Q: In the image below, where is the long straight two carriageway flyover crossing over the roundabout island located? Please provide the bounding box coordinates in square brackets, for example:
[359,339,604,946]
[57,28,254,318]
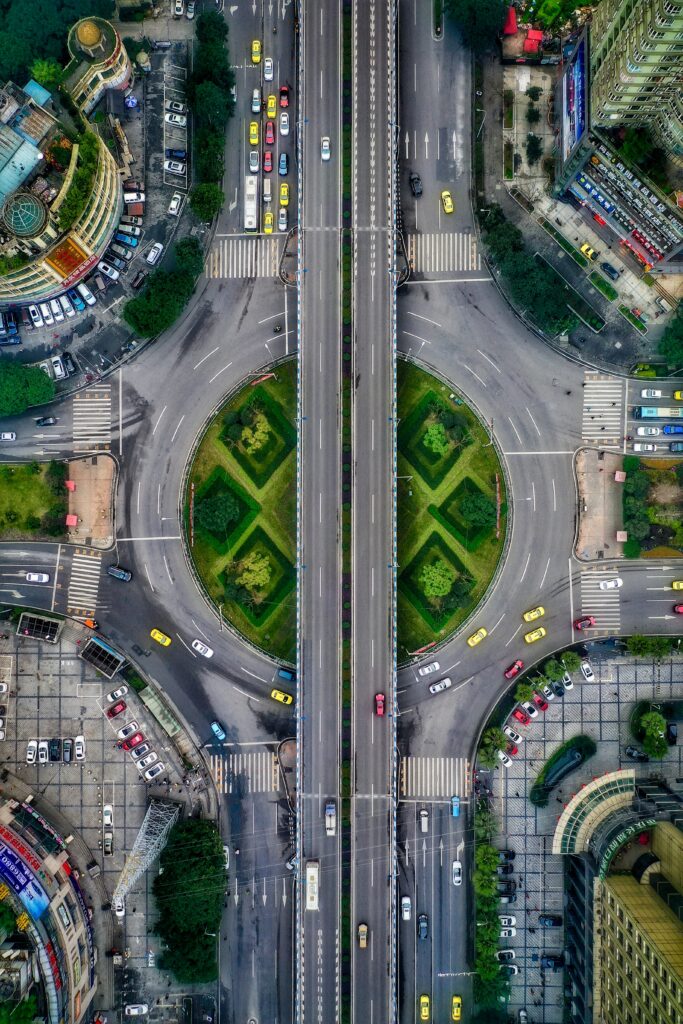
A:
[299,0,396,1024]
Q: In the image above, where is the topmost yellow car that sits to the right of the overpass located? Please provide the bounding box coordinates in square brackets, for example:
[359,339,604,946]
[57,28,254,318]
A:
[441,191,453,215]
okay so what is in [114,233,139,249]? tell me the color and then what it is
blue car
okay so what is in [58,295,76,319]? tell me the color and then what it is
white vehicle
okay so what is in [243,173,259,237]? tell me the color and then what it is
white vehicle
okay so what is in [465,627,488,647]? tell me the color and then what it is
yellow car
